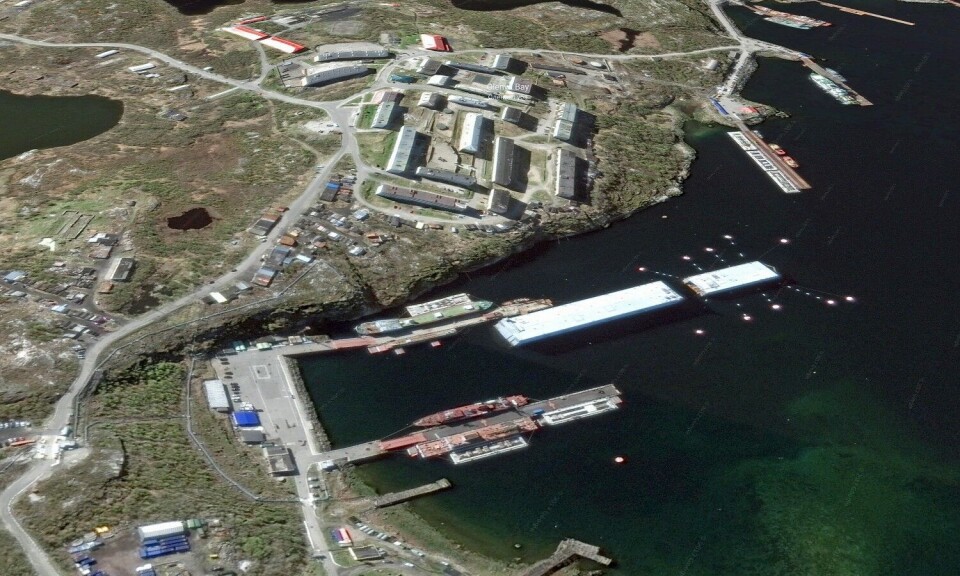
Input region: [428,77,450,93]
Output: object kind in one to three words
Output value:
building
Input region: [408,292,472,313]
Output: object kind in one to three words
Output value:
ship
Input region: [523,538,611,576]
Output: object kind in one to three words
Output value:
pier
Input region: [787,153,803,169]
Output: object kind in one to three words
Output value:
boat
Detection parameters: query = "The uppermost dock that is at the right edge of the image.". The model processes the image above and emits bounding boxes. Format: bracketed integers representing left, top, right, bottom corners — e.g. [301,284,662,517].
[820,0,914,26]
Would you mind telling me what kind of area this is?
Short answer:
port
